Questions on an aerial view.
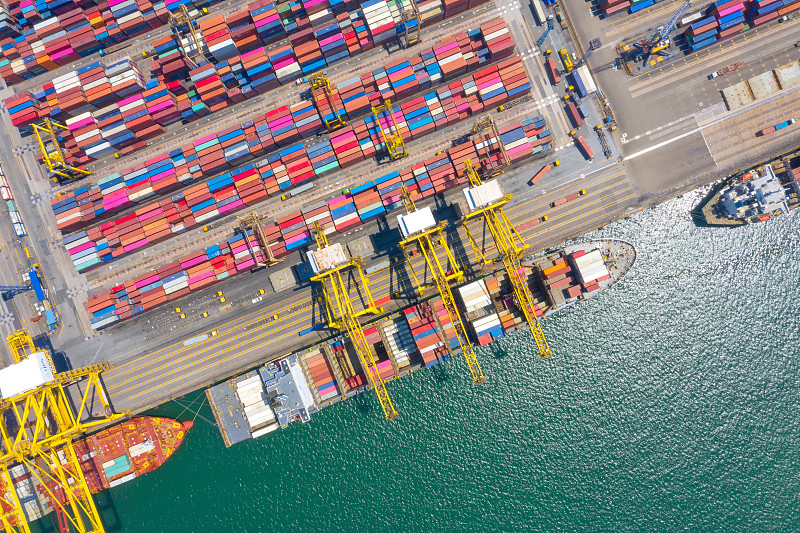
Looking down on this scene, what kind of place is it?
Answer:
port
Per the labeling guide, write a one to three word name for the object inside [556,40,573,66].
work vehicle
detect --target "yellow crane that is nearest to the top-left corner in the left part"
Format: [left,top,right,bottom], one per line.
[28,115,95,181]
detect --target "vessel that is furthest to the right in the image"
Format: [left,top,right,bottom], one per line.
[699,148,800,227]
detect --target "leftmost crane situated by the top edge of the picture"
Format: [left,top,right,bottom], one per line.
[157,9,204,73]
